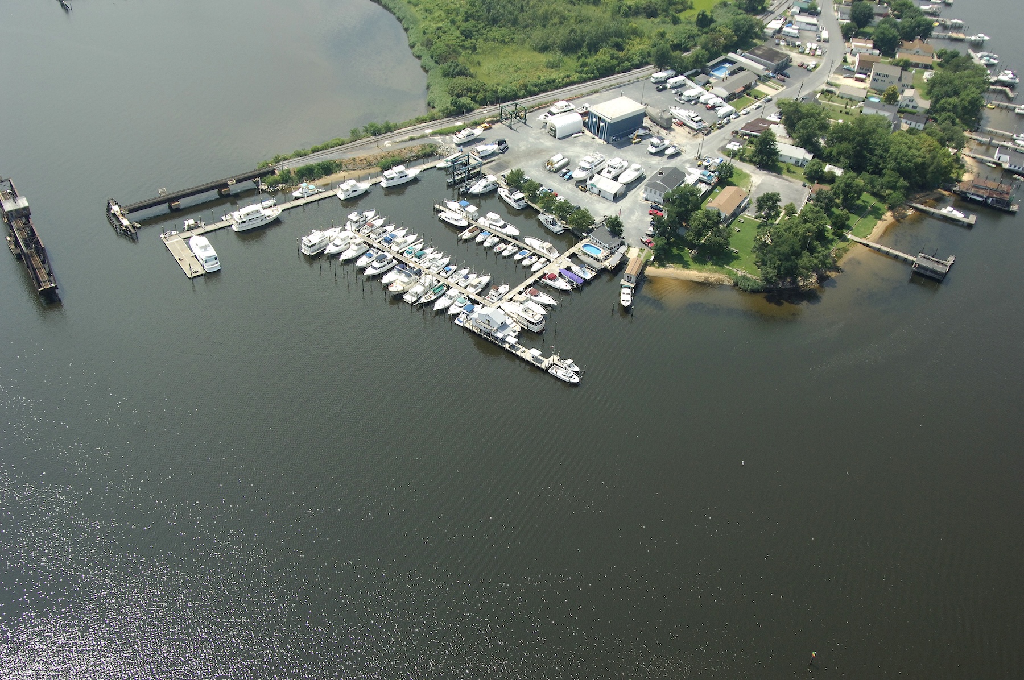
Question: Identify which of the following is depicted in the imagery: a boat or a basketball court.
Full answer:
It is a boat that can be seen here.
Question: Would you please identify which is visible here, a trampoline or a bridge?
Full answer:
This aerial view contains a bridge.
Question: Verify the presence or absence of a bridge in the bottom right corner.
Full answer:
No, there is no bridge in the bottom right corner.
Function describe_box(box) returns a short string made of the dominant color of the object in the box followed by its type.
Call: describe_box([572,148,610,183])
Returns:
white boat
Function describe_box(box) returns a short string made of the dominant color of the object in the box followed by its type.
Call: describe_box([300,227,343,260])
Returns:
white boat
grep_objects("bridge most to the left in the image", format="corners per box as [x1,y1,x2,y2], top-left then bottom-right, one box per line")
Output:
[0,178,63,304]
